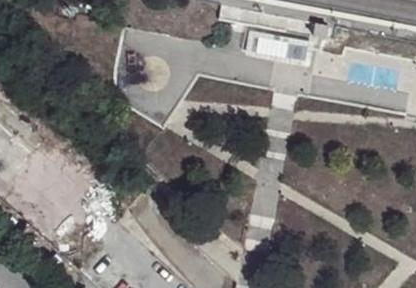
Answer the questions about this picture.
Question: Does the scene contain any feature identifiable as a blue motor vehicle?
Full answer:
No, the picture doesn't show any blue motor vehicle.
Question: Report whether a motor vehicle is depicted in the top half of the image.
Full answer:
No, no motor vehicle appears in the top half of the image.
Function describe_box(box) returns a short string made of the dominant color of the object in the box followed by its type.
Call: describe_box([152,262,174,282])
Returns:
white car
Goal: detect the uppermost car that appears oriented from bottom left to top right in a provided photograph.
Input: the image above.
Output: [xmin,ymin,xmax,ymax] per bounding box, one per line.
[92,254,111,275]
